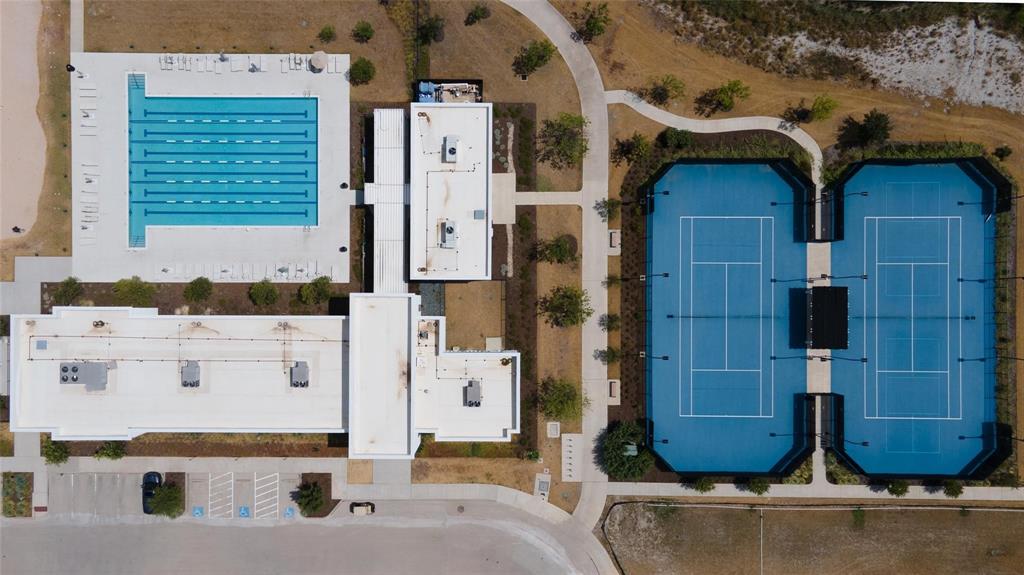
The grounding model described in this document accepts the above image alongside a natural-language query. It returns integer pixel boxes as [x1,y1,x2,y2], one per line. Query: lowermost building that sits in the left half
[10,292,520,459]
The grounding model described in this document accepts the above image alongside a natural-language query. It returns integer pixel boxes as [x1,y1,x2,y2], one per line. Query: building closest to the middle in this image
[410,103,495,281]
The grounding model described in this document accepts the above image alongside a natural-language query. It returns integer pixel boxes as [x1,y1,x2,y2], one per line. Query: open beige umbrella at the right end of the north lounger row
[309,53,326,70]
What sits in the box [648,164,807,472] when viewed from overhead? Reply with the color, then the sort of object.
blue tennis court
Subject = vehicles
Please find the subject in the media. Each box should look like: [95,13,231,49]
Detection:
[141,471,163,514]
[350,500,375,515]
